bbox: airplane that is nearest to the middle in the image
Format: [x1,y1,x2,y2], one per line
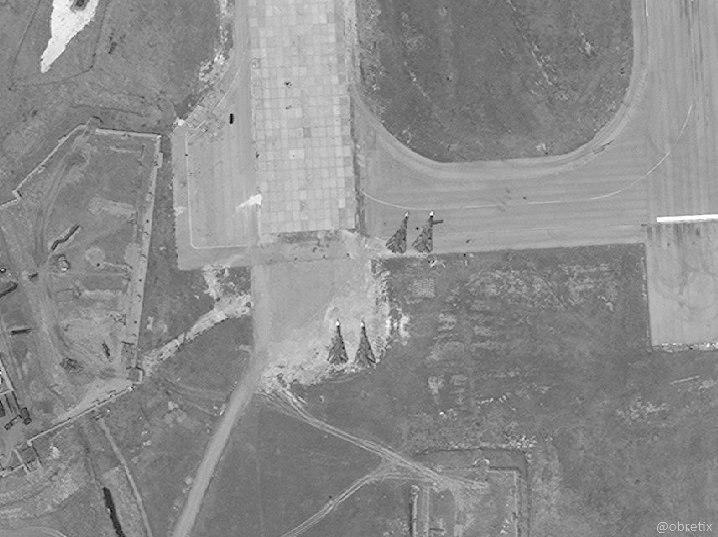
[387,214,407,255]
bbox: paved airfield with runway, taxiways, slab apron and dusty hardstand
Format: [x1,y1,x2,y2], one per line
[173,0,718,391]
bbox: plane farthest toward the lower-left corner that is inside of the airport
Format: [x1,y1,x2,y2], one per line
[328,322,348,363]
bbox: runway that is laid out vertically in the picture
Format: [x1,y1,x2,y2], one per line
[648,0,718,222]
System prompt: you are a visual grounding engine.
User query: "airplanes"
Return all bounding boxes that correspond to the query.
[413,212,433,254]
[355,321,375,364]
[328,322,348,363]
[387,214,407,255]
